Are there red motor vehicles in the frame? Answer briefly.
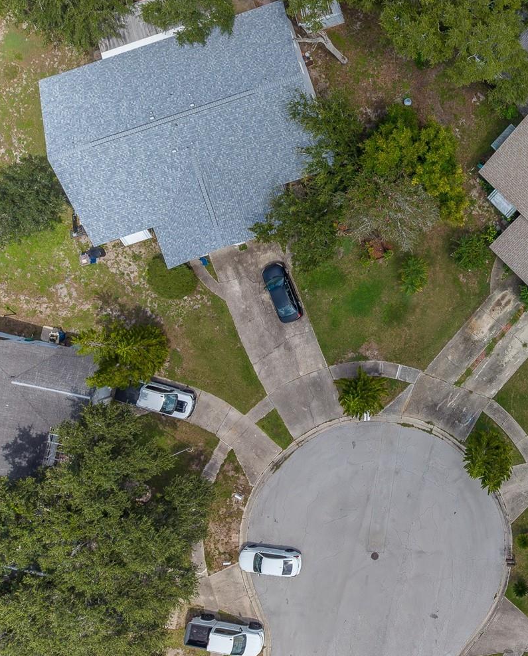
No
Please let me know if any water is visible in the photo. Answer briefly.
No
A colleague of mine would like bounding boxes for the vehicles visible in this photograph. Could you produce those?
[184,614,268,656]
[262,260,305,324]
[240,542,305,577]
[114,378,202,420]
